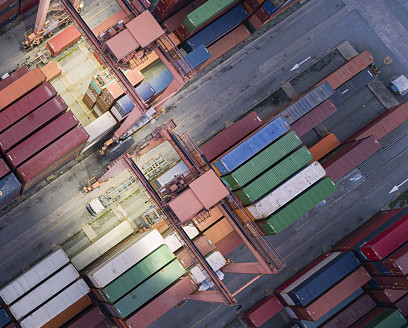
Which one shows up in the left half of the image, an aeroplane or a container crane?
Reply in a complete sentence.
You can see a container crane in the left half of the image.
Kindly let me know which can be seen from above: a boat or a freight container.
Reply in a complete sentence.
The one in the frame is a freight container.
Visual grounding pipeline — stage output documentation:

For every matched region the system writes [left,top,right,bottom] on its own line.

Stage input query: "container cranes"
[79,115,288,315]
[18,0,203,154]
